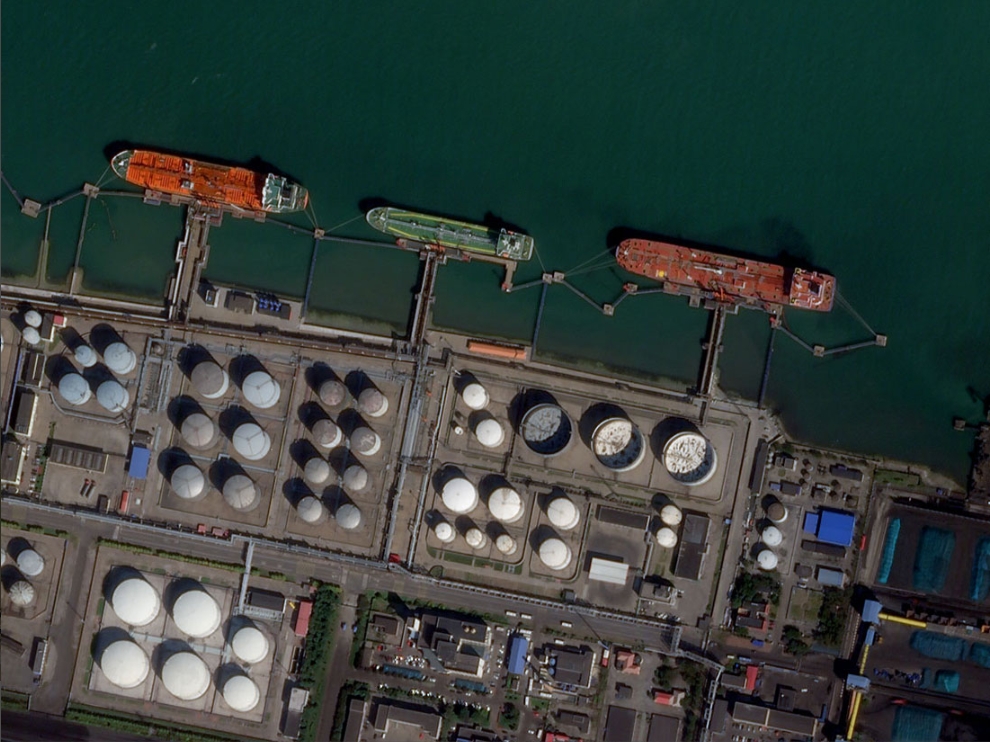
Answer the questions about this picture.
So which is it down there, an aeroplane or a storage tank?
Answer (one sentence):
There is a storage tank in the scene.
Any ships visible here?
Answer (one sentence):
Yes, a ship appears in the view.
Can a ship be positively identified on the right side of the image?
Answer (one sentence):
Yes, a ship can be seen on the right side of the image.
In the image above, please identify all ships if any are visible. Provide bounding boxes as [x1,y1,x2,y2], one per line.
[366,207,535,261]
[111,149,309,215]
[615,238,835,313]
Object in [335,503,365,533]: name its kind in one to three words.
storage tank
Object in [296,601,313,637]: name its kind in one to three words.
building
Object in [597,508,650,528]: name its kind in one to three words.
building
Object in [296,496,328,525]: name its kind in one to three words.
storage tank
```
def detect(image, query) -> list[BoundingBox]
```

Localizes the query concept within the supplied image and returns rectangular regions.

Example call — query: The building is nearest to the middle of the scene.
[470,342,526,359]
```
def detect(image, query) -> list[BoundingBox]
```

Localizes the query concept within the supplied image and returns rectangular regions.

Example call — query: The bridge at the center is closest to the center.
[413,253,438,347]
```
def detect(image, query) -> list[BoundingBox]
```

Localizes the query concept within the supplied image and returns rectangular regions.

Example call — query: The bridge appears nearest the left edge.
[164,209,210,319]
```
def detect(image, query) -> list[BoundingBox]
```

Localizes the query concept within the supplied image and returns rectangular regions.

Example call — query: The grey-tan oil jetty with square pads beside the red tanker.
[663,282,782,314]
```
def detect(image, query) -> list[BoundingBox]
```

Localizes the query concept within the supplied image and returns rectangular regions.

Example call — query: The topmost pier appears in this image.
[144,189,265,226]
